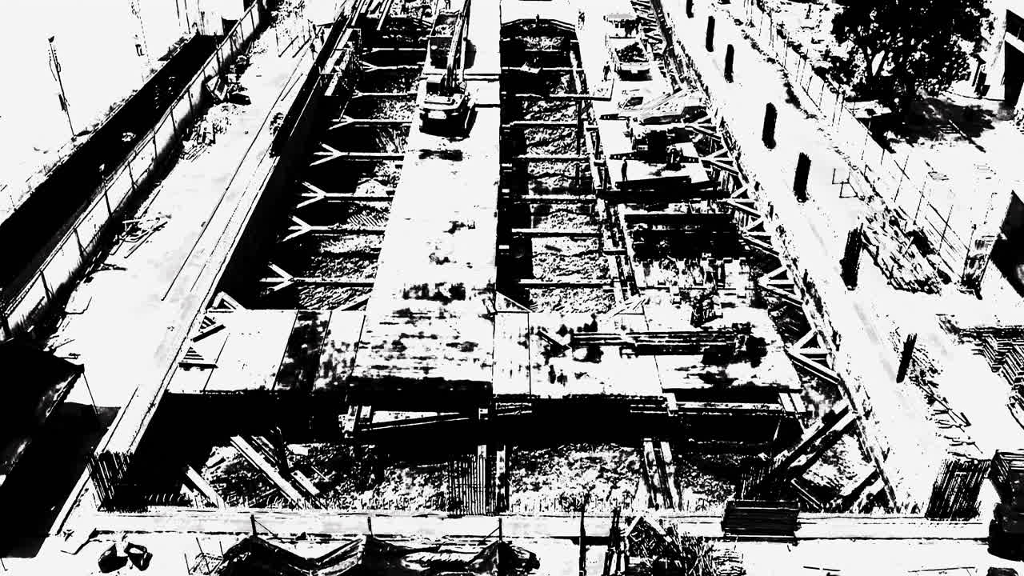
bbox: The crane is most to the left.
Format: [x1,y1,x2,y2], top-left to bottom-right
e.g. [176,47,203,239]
[417,0,482,126]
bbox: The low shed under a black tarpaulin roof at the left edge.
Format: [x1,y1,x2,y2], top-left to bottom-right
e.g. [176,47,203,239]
[0,343,95,542]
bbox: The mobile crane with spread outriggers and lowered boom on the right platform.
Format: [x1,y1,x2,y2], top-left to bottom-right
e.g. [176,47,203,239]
[611,61,715,153]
